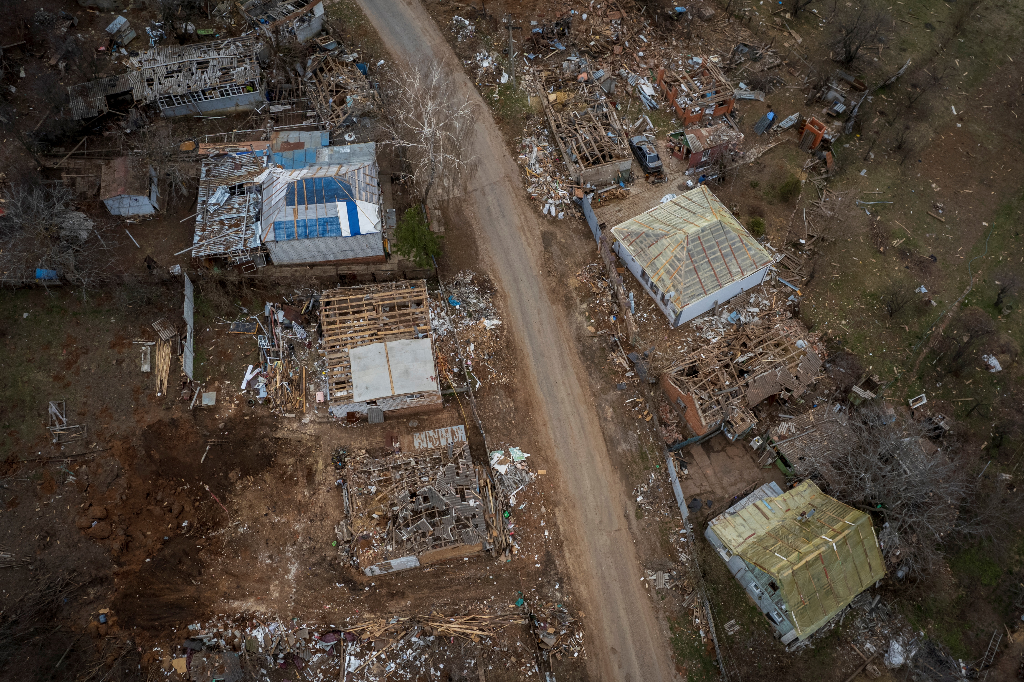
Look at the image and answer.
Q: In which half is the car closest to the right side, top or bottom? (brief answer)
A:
top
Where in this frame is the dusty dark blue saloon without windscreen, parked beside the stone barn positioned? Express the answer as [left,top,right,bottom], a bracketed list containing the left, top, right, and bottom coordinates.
[631,135,665,172]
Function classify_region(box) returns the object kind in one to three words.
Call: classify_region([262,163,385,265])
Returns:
house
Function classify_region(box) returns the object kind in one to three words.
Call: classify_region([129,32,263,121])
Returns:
building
